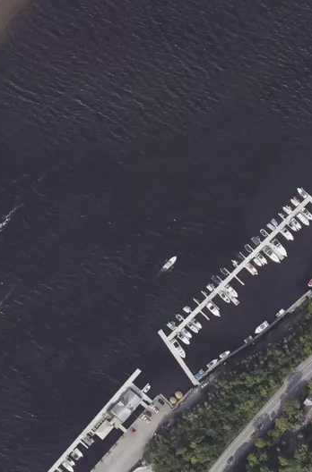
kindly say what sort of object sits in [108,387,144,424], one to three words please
building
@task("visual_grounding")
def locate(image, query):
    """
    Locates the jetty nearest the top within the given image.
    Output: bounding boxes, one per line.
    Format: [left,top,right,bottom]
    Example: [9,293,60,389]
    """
[158,193,312,385]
